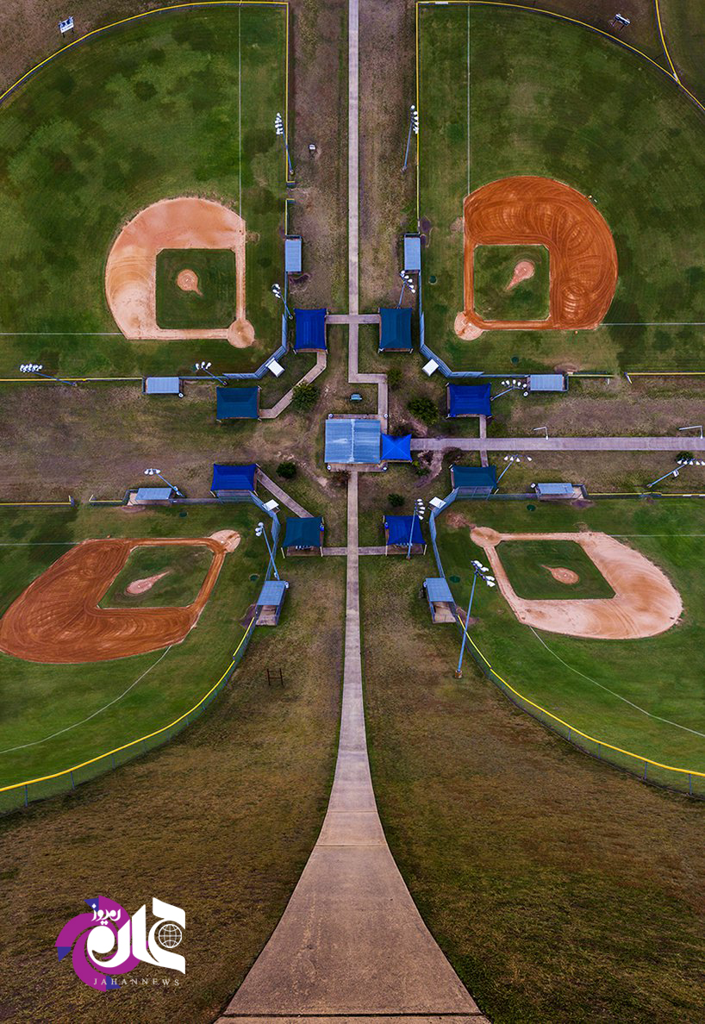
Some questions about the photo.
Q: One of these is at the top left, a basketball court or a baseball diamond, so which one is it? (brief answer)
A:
baseball diamond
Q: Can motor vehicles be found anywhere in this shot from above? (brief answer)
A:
No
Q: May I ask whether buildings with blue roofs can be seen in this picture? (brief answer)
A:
Yes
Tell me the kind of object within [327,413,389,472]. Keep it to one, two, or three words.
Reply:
building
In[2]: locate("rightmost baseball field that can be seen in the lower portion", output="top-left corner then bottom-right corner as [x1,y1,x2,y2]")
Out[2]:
[433,498,705,798]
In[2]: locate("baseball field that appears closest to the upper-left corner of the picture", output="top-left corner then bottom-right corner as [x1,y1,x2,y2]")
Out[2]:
[0,7,287,379]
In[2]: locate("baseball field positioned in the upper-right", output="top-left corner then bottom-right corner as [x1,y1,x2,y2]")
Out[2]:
[417,7,705,376]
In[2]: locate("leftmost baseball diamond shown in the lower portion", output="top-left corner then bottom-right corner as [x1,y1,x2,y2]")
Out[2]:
[0,502,277,812]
